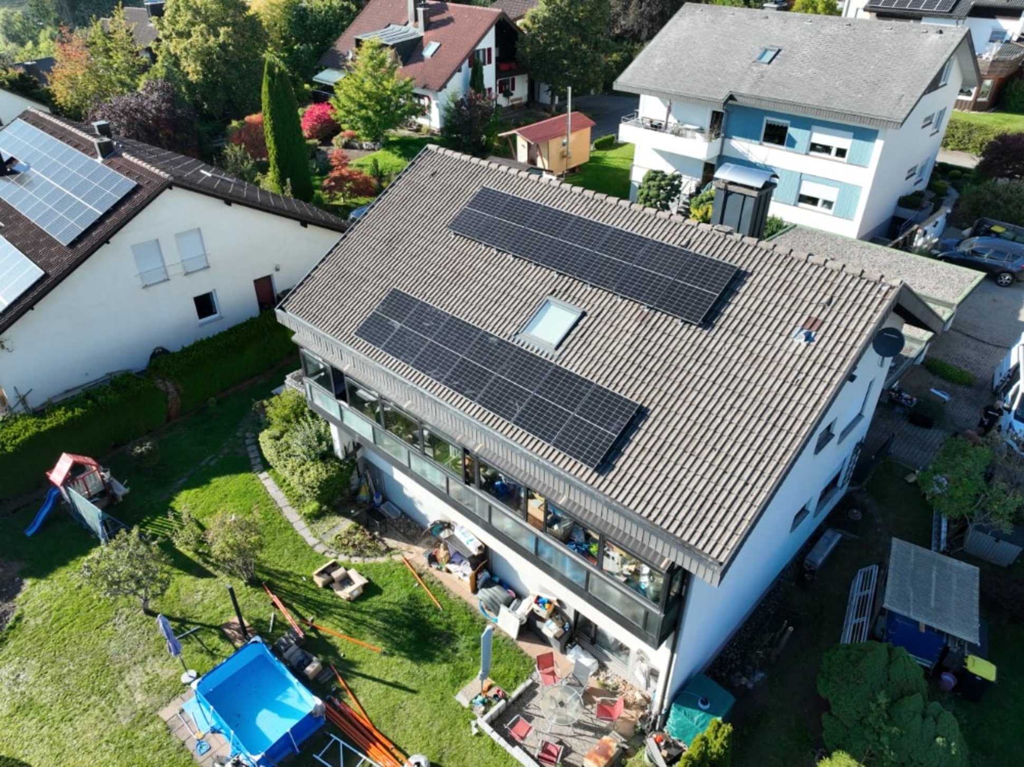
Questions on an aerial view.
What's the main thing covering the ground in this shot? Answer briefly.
buildings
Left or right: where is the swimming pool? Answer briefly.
left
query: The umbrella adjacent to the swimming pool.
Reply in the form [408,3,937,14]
[155,615,199,685]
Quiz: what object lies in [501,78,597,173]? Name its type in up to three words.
shed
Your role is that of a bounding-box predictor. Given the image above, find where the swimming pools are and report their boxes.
[186,633,333,767]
